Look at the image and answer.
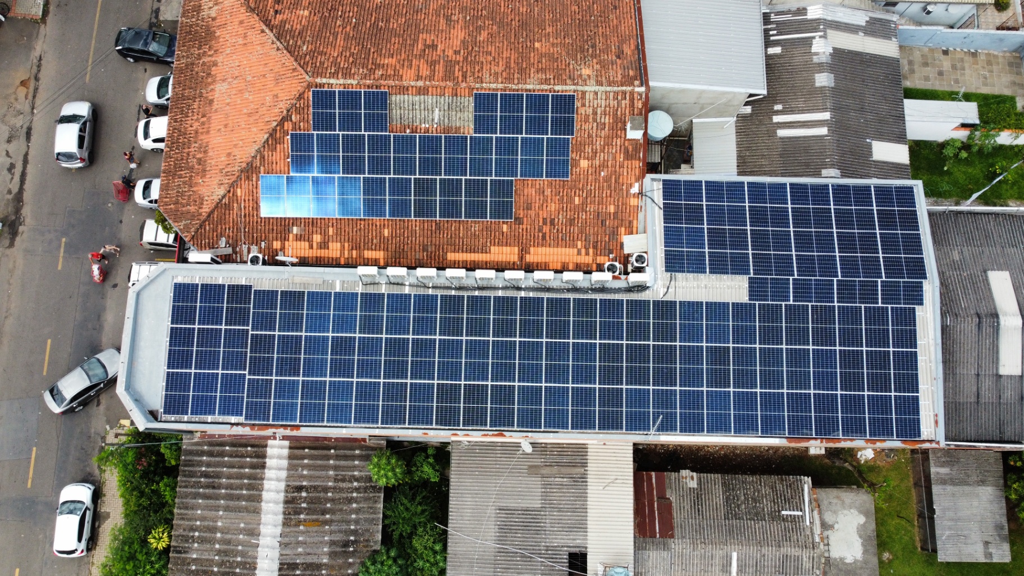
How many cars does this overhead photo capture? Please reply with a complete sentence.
The count of cars comes to 9.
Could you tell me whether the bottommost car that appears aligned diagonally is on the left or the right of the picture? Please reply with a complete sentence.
You can find the bottommost car that appears aligned diagonally on the left side of the picture.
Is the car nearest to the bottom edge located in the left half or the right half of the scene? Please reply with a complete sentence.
The car nearest to the bottom edge appears in the left half of the scene.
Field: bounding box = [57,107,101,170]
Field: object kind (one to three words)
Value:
car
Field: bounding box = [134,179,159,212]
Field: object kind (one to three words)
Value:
car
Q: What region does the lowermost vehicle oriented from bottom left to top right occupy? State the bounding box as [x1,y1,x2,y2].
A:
[46,351,121,413]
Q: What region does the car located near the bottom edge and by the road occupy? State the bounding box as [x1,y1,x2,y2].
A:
[54,479,103,563]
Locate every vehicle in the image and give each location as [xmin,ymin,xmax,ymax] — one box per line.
[135,219,178,254]
[116,33,174,68]
[147,78,170,110]
[138,121,165,154]
[46,351,121,413]
[120,260,167,290]
[134,179,159,212]
[54,479,103,563]
[57,107,101,170]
